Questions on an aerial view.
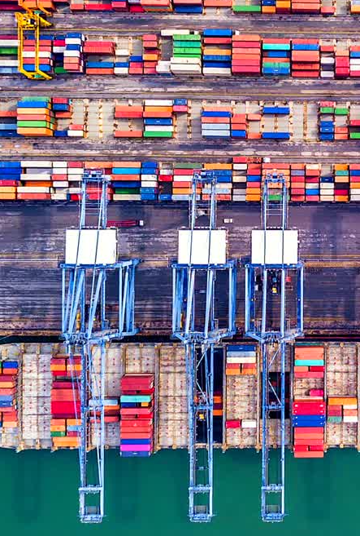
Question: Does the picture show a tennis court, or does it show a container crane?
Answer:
container crane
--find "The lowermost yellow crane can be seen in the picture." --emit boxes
[16,12,57,84]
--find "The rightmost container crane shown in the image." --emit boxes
[242,162,314,524]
